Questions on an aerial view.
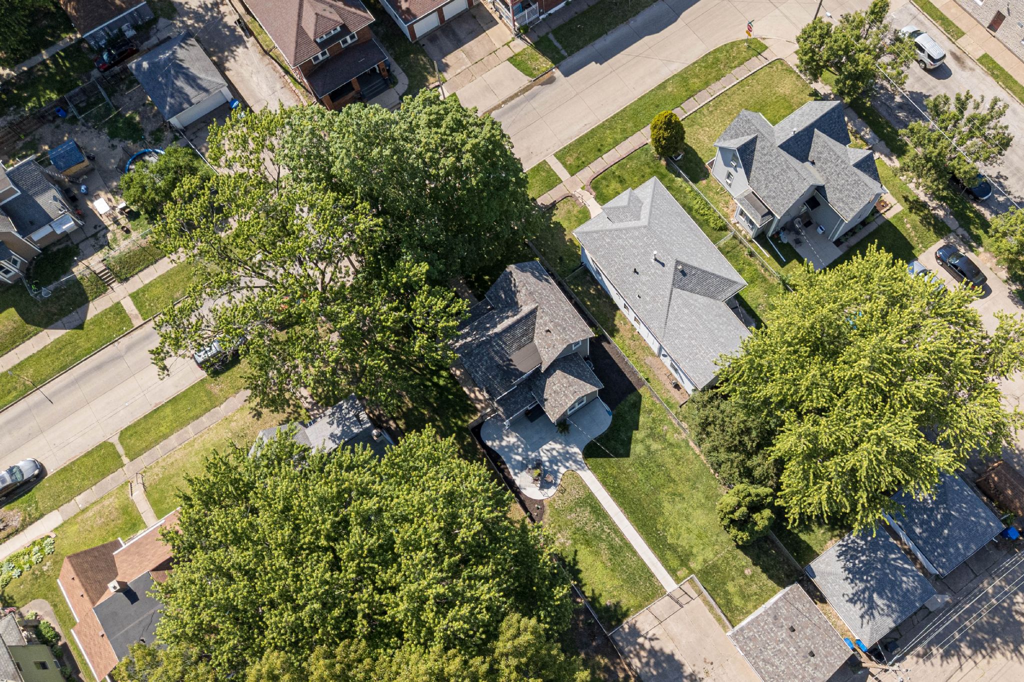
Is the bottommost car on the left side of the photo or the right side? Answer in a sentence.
You can find the bottommost car on the left side of the picture.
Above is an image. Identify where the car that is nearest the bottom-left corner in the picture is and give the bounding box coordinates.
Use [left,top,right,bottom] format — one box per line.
[0,457,45,505]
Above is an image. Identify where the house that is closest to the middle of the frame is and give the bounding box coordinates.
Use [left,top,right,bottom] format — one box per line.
[441,260,608,428]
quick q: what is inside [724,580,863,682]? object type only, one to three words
building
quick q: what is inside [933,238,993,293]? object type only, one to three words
car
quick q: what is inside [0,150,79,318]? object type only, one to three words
house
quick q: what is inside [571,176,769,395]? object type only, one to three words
house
